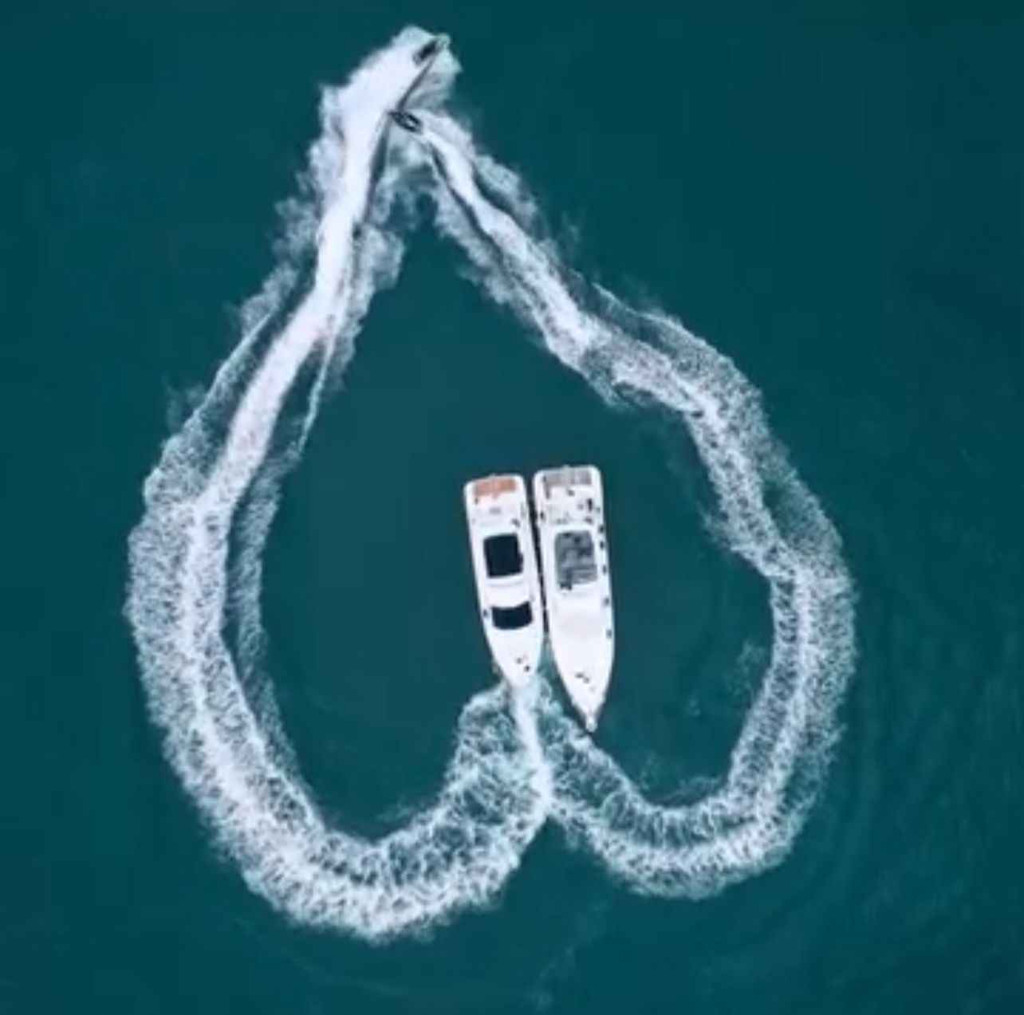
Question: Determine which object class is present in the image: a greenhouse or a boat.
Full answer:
Visible in the photo is a boat.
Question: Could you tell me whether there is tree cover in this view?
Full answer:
No, there's no tree cover in this view.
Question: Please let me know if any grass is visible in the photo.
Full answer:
No, the scene doesn't show any grass.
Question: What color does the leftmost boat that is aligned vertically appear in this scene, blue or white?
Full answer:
The leftmost boat that is aligned vertically looks white in the image.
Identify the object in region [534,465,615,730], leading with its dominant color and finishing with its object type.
white boat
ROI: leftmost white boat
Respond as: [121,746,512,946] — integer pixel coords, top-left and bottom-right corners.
[466,474,543,691]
